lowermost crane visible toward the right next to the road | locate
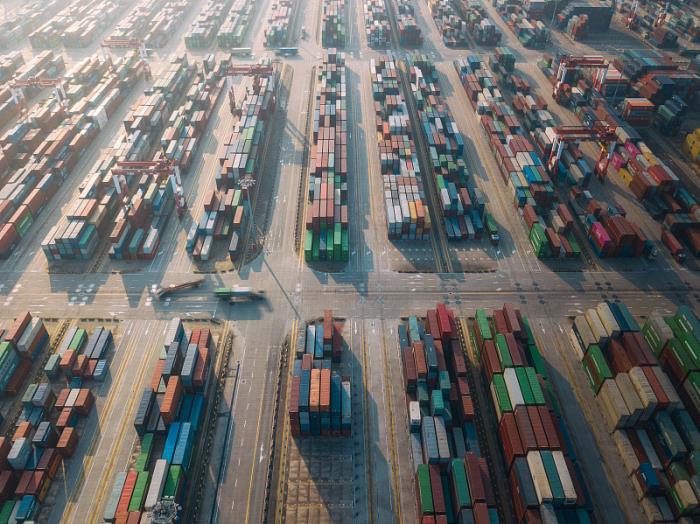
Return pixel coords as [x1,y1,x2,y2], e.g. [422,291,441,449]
[547,127,621,182]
